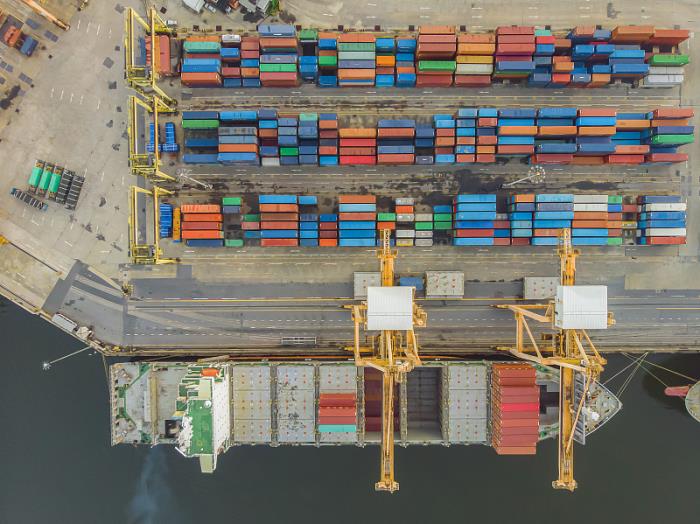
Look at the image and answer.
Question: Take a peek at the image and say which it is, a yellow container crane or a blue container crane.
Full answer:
Visible in the photo is a yellow container crane.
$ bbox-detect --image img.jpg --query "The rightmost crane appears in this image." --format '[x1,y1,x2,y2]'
[492,227,607,493]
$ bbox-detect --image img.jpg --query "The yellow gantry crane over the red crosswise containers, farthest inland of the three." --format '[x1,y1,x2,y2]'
[122,4,180,105]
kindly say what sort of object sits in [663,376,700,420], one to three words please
ship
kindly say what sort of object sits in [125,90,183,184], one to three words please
container crane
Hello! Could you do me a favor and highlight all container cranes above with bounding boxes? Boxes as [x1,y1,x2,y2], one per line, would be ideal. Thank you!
[342,227,423,493]
[126,182,184,266]
[125,90,183,184]
[122,4,180,105]
[27,0,70,29]
[492,227,607,493]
